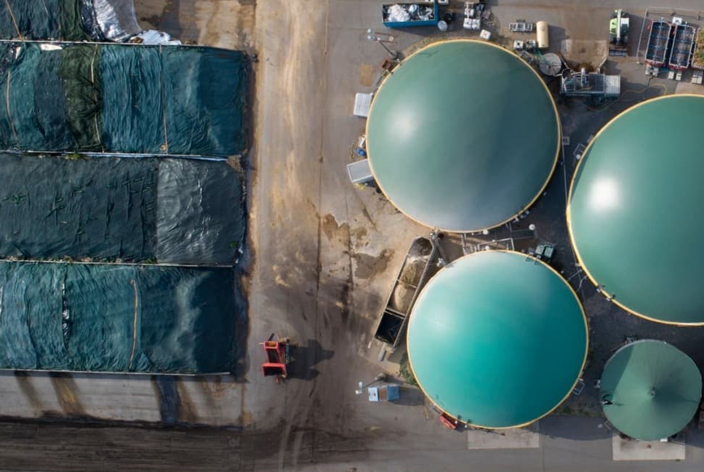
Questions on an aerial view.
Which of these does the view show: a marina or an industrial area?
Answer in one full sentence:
This image shows an industrial area.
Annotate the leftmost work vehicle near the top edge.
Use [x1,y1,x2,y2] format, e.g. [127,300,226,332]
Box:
[609,8,628,61]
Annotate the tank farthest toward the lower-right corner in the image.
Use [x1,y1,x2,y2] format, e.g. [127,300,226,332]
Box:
[601,336,702,439]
